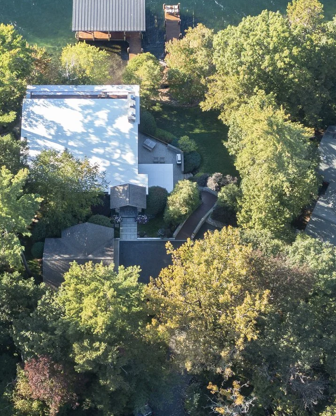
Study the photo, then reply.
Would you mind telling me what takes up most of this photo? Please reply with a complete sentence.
Most of the picture is covered by trees.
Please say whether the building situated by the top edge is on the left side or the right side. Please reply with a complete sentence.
The building situated by the top edge appears in the left half of the scene.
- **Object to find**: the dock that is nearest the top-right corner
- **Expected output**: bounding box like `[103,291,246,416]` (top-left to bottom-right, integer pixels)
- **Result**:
[163,2,181,57]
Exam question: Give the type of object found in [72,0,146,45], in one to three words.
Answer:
building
